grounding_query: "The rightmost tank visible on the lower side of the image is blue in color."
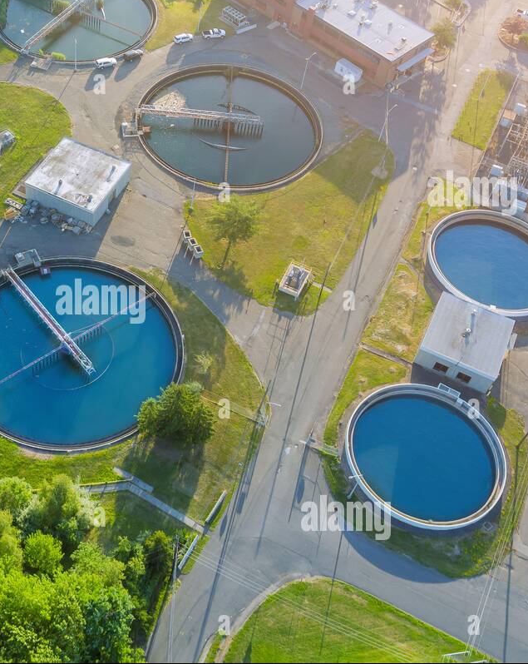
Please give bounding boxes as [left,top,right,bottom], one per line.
[339,379,509,538]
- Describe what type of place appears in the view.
industrial area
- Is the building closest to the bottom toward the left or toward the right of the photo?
right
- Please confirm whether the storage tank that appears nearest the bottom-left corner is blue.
Yes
